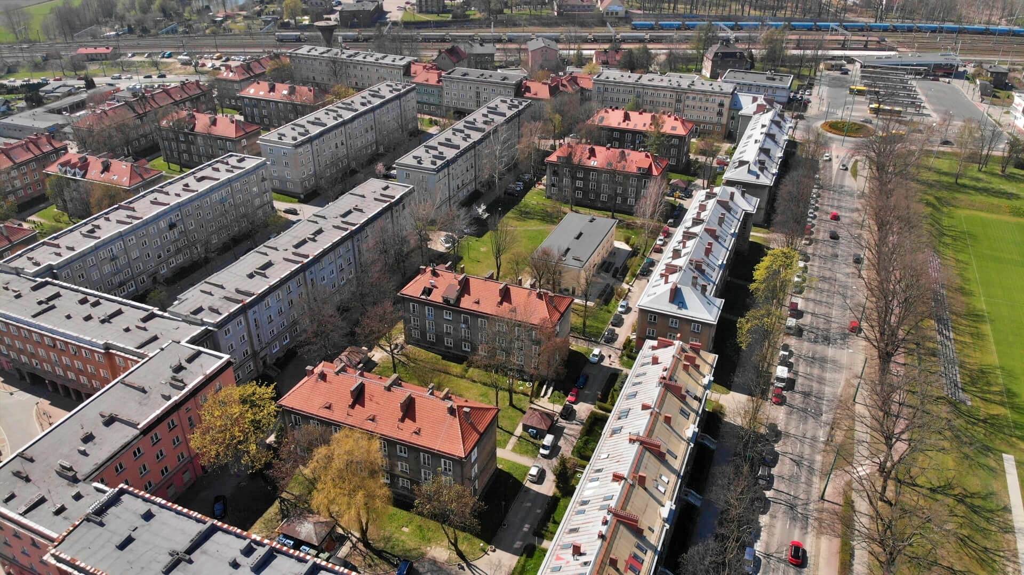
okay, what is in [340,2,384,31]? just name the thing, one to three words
shed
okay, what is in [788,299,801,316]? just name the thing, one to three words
vehicle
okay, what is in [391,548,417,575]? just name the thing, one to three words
vehicle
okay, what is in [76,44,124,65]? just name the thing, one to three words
shed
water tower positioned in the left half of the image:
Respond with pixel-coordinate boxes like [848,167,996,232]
[312,20,336,47]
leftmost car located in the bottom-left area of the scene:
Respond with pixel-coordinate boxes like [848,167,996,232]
[211,493,227,520]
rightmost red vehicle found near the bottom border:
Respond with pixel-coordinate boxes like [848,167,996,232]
[787,539,805,571]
